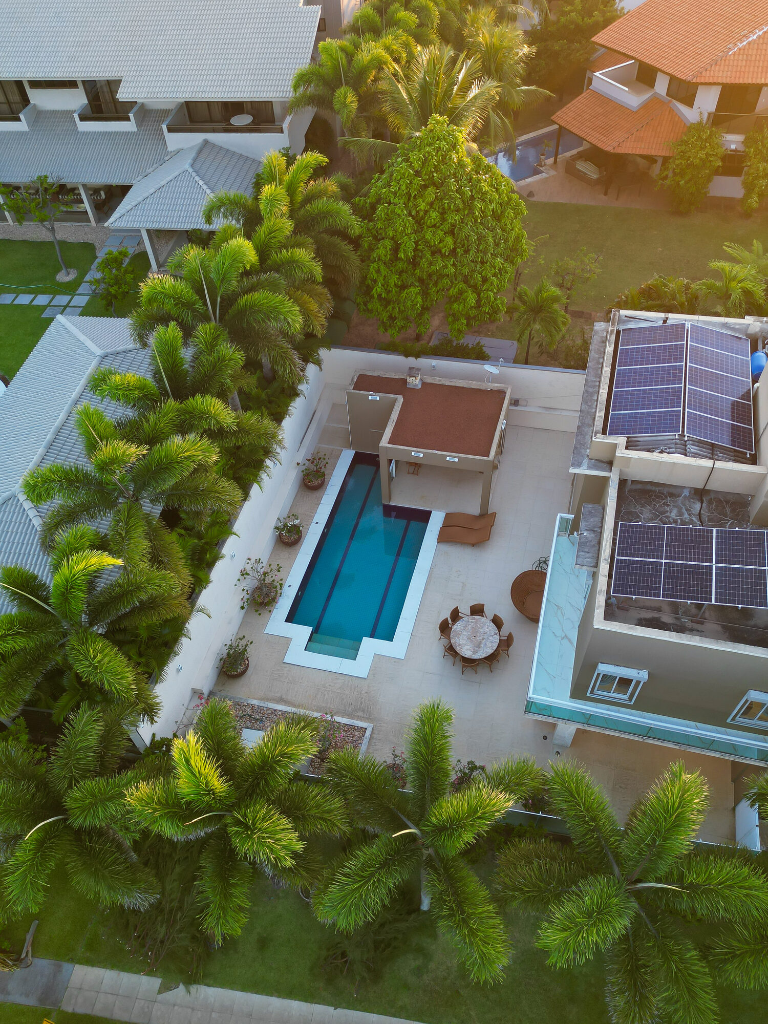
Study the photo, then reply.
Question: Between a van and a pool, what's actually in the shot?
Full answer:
There is a pool in the scene.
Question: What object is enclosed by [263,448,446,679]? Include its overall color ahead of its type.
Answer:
blue swimming pool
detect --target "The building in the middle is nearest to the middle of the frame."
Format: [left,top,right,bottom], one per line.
[346,366,510,512]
